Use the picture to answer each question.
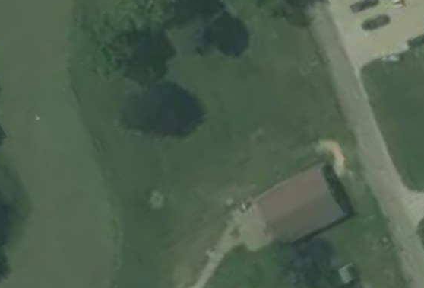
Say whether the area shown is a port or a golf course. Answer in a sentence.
What you see here is a golf course.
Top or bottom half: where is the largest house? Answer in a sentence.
The largest house is in the bottom half of the image.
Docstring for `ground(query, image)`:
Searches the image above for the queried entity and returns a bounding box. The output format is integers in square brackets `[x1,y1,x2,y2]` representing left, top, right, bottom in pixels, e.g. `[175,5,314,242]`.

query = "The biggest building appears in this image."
[257,165,346,240]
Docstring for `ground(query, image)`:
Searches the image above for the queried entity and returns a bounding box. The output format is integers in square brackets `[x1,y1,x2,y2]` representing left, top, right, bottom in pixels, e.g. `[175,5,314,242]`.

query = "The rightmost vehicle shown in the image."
[406,35,424,50]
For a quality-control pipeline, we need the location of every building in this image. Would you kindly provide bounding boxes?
[257,165,346,240]
[338,264,353,283]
